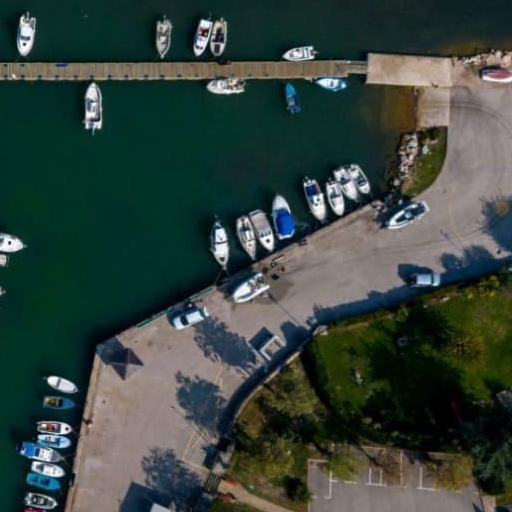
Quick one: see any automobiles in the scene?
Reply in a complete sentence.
Yes, I can see an automobile in this picture.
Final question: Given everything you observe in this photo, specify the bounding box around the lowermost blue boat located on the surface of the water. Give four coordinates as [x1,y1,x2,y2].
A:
[25,472,61,490]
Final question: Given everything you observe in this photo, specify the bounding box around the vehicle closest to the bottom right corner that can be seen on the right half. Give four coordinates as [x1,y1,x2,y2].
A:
[408,270,442,286]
